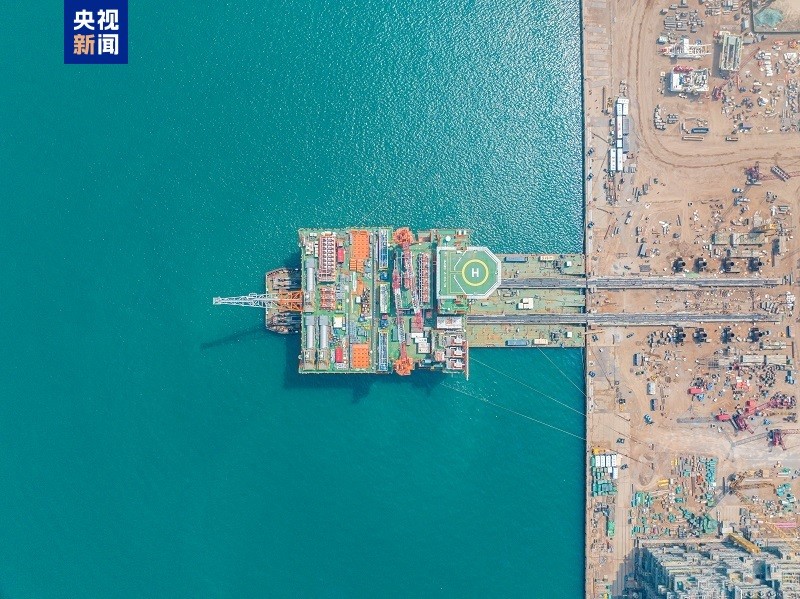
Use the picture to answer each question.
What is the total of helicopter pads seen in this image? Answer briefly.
1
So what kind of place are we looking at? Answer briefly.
port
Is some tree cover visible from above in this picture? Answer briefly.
No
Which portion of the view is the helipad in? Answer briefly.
center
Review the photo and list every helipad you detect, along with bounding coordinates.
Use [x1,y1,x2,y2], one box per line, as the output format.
[437,244,501,302]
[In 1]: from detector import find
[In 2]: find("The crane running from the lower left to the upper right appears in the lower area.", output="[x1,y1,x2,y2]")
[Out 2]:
[726,387,790,434]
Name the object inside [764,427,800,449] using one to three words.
crane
